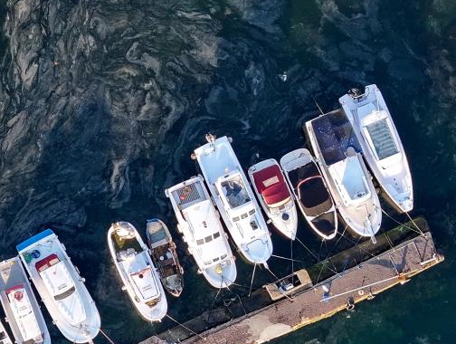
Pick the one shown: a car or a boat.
boat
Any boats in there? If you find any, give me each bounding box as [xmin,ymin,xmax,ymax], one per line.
[163,177,238,287]
[247,157,299,242]
[110,221,166,321]
[189,136,273,263]
[144,217,183,295]
[0,255,49,344]
[279,148,335,239]
[16,227,98,344]
[303,100,387,236]
[339,85,413,212]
